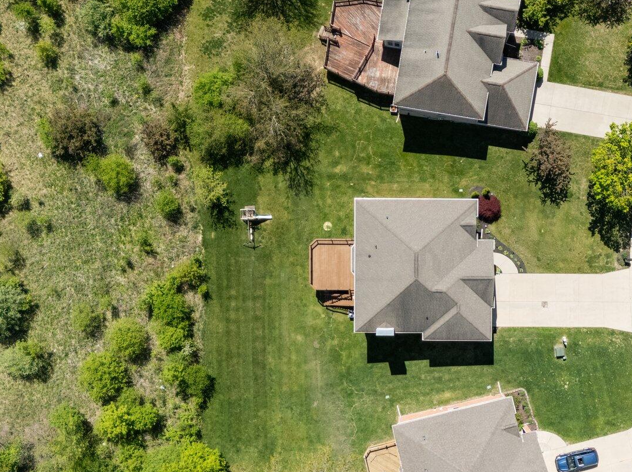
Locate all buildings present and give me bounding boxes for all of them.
[350,198,495,341]
[377,0,540,133]
[391,382,549,472]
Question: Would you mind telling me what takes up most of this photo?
grass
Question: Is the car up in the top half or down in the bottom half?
bottom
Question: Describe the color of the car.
blue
